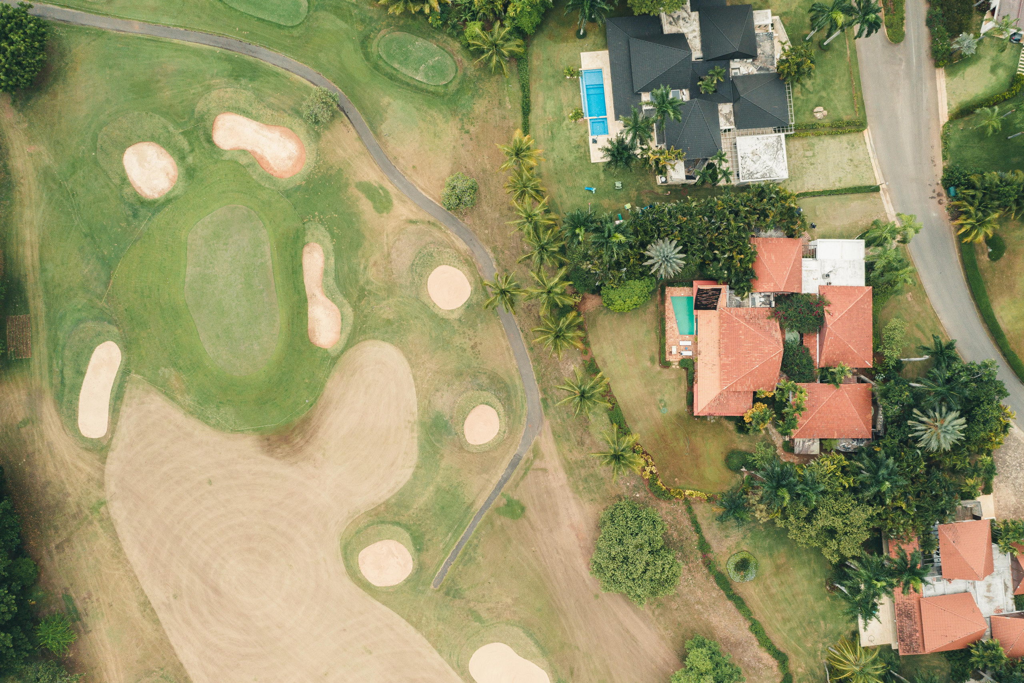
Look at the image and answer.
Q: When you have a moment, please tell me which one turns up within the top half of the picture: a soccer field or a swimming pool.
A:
swimming pool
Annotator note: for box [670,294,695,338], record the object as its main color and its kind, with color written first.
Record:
green swimming pool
